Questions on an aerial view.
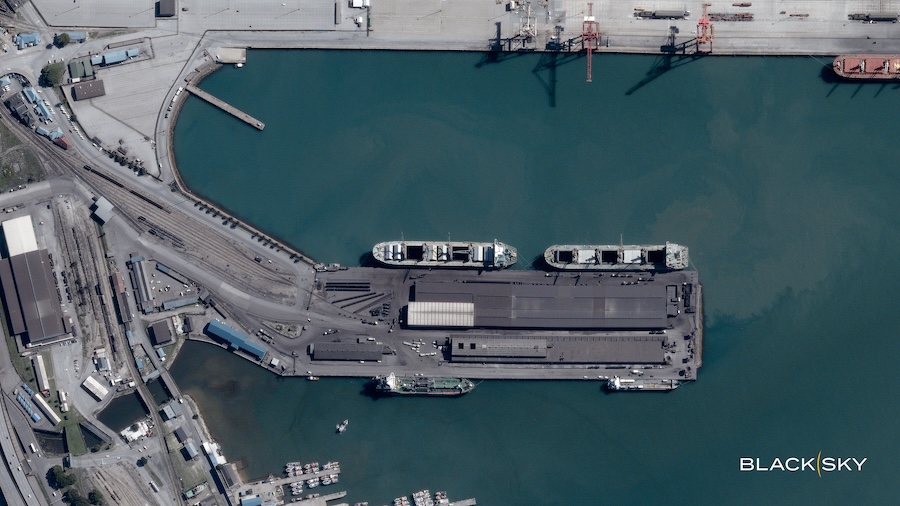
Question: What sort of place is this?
port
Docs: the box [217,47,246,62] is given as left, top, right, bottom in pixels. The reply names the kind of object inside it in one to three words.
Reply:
pier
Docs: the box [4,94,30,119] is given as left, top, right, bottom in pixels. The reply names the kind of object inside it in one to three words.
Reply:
building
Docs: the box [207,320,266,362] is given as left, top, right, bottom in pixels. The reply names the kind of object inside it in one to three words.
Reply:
shed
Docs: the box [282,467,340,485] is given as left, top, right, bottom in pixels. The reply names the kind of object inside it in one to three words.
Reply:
pier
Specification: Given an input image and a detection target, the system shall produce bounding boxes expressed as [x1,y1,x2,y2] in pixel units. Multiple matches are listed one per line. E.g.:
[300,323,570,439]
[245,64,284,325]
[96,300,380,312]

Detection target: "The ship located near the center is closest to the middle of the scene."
[361,233,527,269]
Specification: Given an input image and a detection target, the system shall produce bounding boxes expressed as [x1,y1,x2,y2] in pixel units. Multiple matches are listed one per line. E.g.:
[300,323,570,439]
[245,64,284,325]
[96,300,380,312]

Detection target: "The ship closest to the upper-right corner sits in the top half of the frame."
[808,54,900,81]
